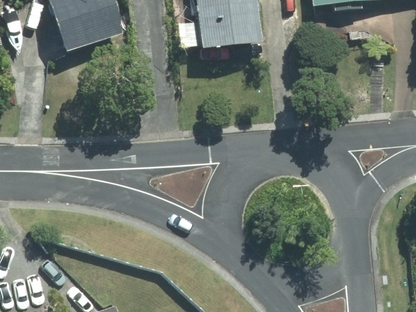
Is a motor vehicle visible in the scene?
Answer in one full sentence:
Yes, I can see a motor vehicle in this picture.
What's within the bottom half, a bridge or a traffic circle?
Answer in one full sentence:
What appears within the bottom half is a traffic circle.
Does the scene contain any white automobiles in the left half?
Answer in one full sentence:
Yes, there is a white automobile in the left half.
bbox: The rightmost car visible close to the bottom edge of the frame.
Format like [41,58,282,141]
[66,286,95,312]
